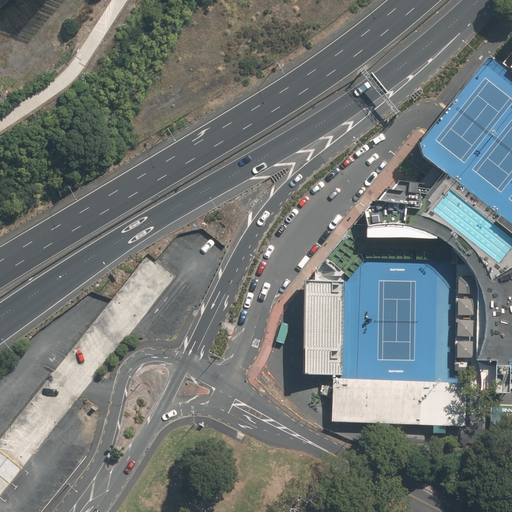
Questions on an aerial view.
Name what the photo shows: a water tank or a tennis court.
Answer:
tennis court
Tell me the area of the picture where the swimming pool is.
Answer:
right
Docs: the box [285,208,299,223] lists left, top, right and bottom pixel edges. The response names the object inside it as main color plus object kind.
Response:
white car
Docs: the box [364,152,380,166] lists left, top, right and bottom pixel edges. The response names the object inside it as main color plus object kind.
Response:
white car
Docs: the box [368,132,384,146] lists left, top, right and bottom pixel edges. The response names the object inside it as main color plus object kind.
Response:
white vehicle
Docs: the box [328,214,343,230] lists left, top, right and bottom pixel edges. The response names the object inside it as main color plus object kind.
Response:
white vehicle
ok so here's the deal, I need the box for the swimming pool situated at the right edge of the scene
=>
[432,190,512,264]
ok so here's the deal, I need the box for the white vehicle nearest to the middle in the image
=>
[262,244,276,260]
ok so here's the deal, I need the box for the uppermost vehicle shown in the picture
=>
[352,81,372,98]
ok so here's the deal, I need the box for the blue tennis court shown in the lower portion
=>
[375,280,415,360]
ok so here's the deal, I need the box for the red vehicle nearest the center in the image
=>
[255,261,267,277]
